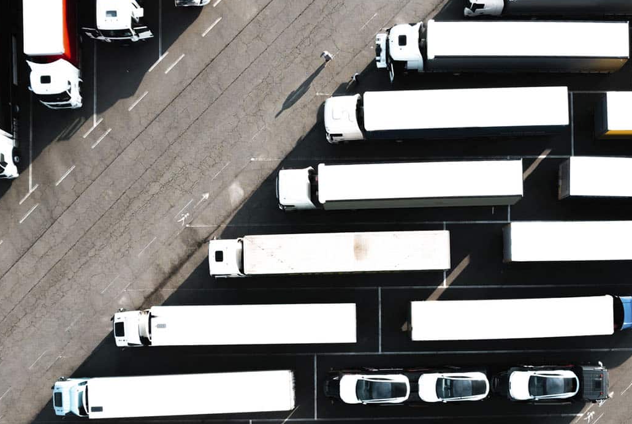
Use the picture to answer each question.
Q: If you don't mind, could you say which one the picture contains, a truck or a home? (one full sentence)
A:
This aerial view contains a truck.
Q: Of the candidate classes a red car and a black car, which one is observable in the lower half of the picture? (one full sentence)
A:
There is a black car in the lower half of the picture.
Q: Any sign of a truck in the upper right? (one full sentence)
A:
Yes, there is a truck in the upper right.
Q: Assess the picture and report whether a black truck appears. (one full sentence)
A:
Yes, there's a black truck here.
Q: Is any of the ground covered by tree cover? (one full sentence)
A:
No, the picture contains no tree cover.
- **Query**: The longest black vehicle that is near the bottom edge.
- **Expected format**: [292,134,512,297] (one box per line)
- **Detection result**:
[329,357,611,406]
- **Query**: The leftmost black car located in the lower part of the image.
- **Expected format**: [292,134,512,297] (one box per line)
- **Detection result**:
[324,375,347,402]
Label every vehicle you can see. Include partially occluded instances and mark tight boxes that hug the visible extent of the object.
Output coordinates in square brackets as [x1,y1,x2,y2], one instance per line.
[86,0,159,46]
[24,0,86,109]
[329,357,611,406]
[0,0,22,180]
[503,221,632,264]
[408,295,632,340]
[418,371,487,403]
[378,18,630,87]
[324,86,568,145]
[116,303,359,350]
[508,368,577,400]
[324,375,347,402]
[207,231,452,283]
[340,372,409,404]
[593,91,632,144]
[557,156,632,206]
[458,0,632,20]
[55,369,300,422]
[279,159,523,214]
